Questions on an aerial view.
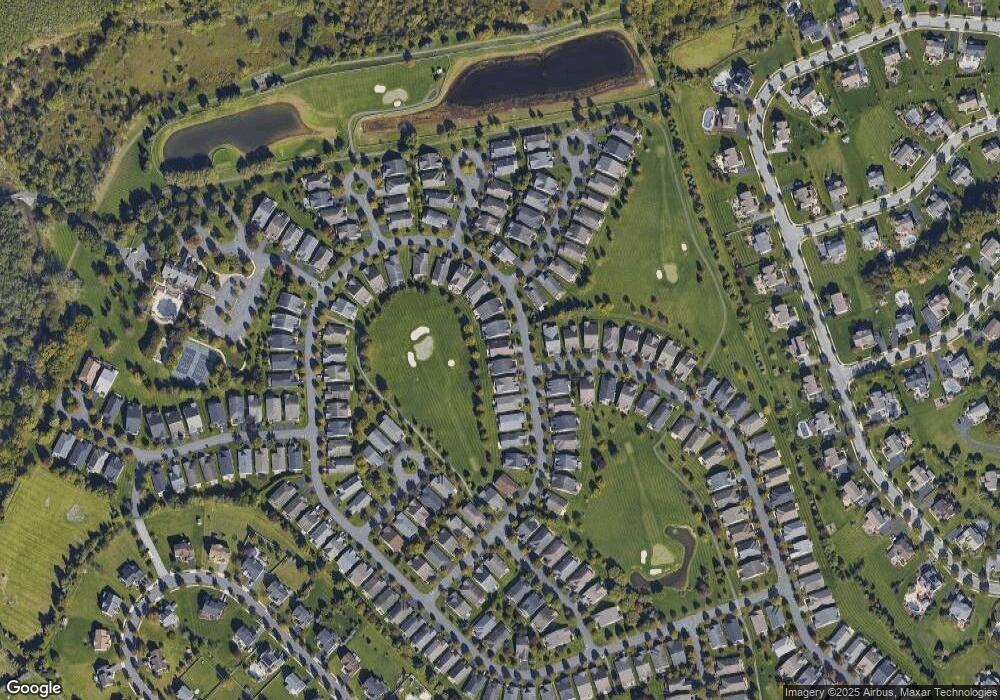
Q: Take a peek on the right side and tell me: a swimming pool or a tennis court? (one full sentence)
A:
There is a swimming pool on the right side.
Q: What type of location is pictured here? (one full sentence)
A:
The picture captures a residential area.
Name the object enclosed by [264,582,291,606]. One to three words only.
house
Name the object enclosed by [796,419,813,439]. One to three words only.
swimming pool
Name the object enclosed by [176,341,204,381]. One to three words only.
tennis court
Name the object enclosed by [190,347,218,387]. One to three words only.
tennis court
